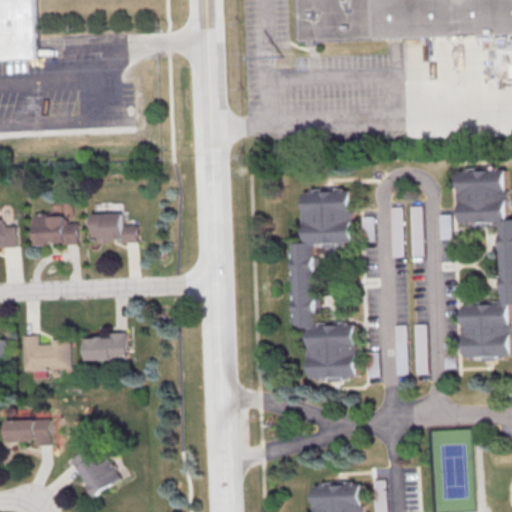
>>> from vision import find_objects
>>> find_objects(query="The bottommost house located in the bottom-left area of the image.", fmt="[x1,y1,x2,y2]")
[72,453,124,496]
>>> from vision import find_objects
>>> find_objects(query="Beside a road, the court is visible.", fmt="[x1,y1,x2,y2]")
[432,429,474,512]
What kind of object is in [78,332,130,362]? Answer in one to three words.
house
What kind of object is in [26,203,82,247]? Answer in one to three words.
house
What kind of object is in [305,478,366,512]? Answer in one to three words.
building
